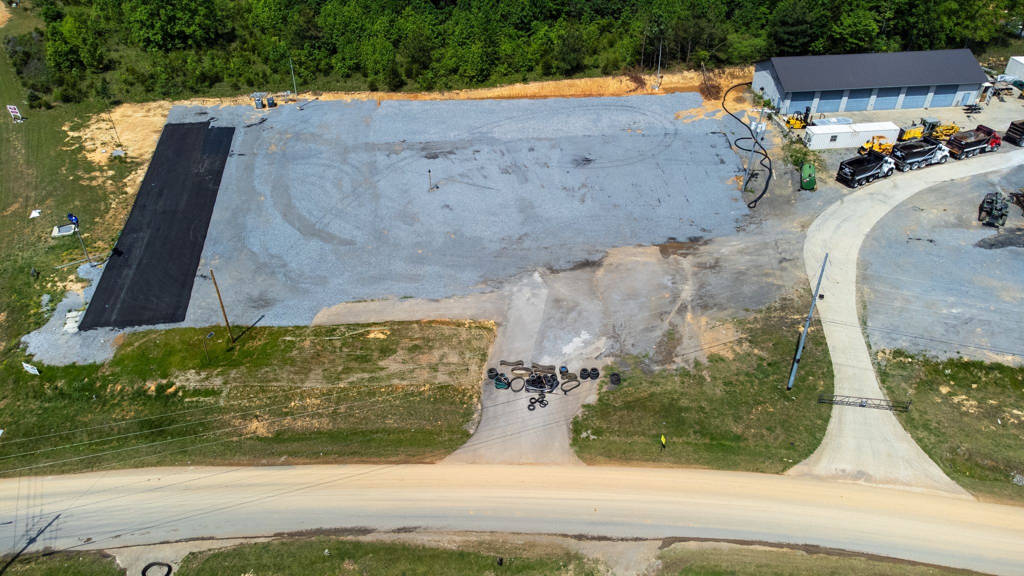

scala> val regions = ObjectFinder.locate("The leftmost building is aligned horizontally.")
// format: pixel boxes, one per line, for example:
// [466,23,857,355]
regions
[746,49,994,113]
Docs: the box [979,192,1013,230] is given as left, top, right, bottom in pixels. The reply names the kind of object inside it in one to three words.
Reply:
work vehicle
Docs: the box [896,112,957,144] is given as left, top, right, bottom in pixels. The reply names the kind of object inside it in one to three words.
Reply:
work vehicle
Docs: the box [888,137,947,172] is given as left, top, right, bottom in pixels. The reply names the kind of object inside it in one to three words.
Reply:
truck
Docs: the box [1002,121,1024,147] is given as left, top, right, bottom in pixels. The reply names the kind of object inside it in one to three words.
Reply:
truck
